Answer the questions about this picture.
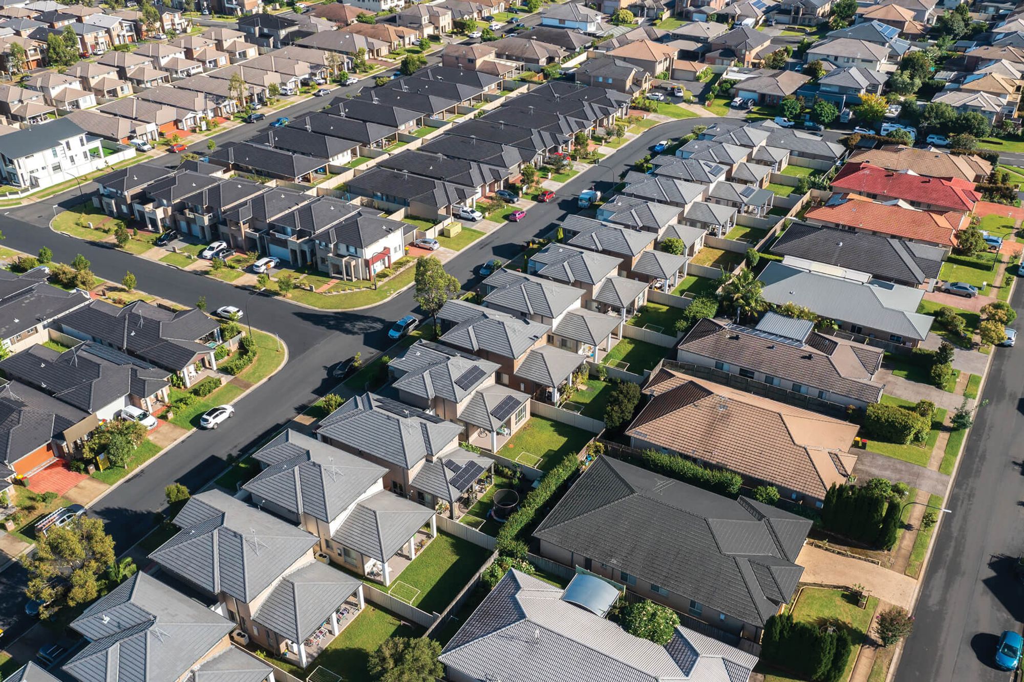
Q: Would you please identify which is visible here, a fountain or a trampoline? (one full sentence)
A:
I can see a trampoline in this picture.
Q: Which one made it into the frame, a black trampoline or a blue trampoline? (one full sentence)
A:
Visible in the photo is a black trampoline.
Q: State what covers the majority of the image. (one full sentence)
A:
The largest share of the image is taken up by buildings.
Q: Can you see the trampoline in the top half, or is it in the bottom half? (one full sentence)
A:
The trampoline sits in the bottom half of the picture.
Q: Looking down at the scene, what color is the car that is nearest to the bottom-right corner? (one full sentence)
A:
The car that is nearest to the bottom-right corner looks blue in the image.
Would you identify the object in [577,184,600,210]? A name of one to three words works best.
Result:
truck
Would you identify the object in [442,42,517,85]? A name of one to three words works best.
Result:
house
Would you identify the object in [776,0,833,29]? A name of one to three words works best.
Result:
house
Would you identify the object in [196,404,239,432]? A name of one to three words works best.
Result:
car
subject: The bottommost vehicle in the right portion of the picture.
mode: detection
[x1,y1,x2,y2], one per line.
[990,633,1024,677]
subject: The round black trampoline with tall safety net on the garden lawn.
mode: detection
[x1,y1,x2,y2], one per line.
[486,483,522,521]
